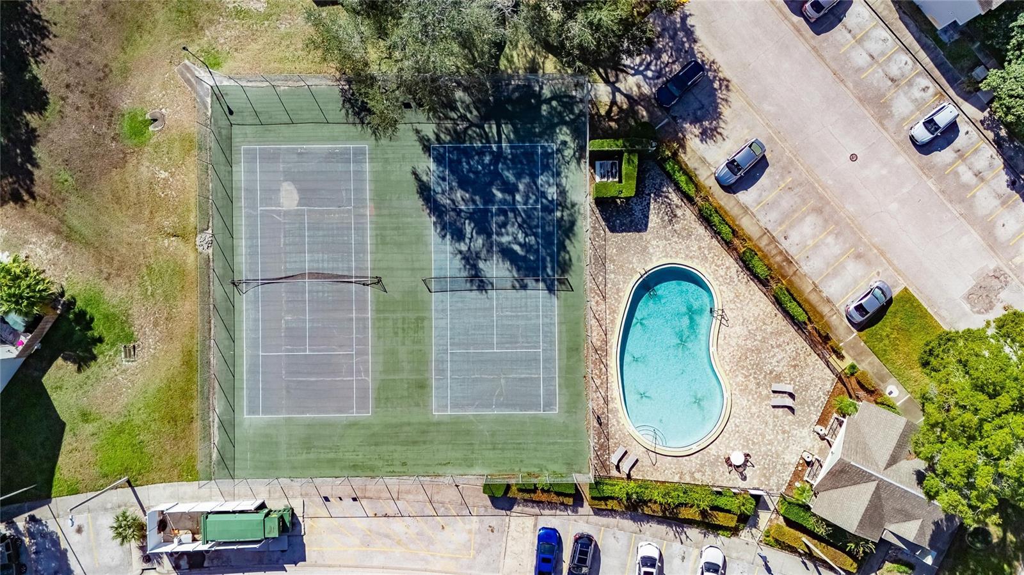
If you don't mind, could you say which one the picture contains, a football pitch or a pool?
pool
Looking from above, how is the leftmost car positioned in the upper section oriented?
at an angle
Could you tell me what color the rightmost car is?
white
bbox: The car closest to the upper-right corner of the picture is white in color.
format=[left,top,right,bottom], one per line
[913,98,967,144]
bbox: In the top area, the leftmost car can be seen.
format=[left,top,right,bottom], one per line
[656,54,711,105]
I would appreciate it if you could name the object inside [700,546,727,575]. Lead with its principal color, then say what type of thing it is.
white car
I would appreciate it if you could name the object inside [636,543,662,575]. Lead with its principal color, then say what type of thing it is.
white car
